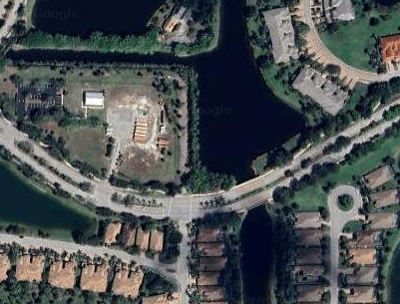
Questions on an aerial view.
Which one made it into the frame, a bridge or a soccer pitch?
bridge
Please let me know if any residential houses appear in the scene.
Yes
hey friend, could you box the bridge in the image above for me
[226,172,271,212]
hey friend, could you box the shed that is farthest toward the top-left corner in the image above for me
[83,91,105,108]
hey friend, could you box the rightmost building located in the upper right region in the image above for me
[379,33,400,69]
